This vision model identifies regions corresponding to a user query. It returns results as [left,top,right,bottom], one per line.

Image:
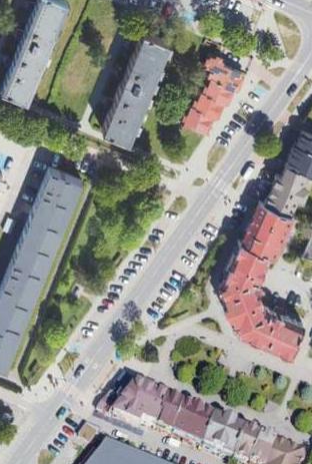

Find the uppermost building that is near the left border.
[0,0,69,109]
